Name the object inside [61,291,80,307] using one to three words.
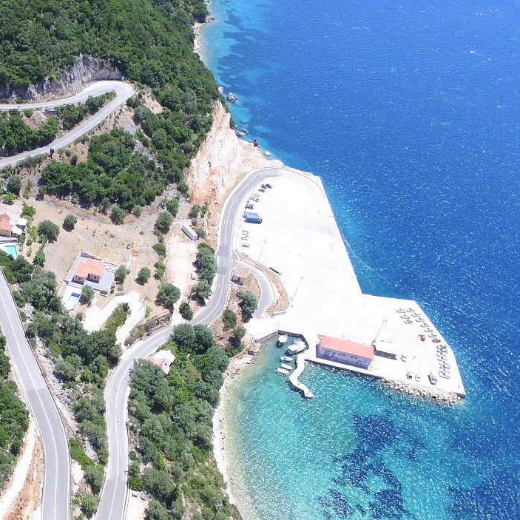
swimming pool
